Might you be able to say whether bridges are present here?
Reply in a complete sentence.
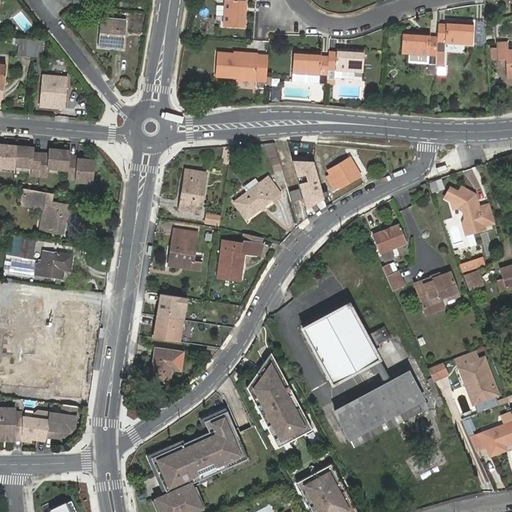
No, no bridge is visible in the view.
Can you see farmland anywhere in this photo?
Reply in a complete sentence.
No, the picture contains no farmland.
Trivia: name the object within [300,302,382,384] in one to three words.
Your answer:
building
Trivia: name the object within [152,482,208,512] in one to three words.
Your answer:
building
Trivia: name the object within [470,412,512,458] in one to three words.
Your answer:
house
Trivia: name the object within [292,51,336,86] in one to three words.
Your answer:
house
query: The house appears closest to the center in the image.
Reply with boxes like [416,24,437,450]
[216,238,264,282]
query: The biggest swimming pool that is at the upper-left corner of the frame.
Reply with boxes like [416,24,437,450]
[12,10,33,32]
